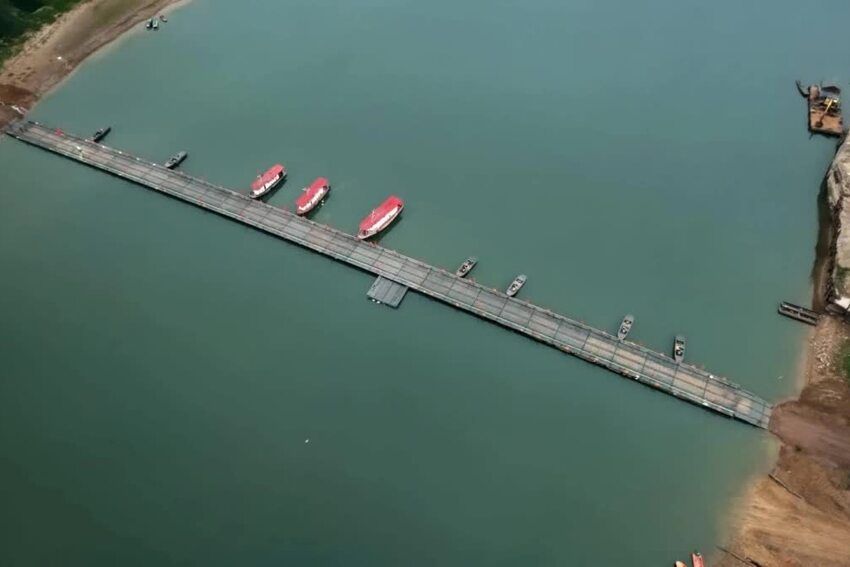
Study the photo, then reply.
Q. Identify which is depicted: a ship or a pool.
ship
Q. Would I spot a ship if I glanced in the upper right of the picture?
Yes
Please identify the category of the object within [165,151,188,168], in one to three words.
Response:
boat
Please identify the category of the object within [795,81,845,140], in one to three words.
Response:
ship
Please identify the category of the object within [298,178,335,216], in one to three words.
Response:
boat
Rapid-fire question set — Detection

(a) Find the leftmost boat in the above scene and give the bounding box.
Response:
[91,128,111,143]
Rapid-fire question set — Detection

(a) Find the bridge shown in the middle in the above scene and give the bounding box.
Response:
[0,115,775,431]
